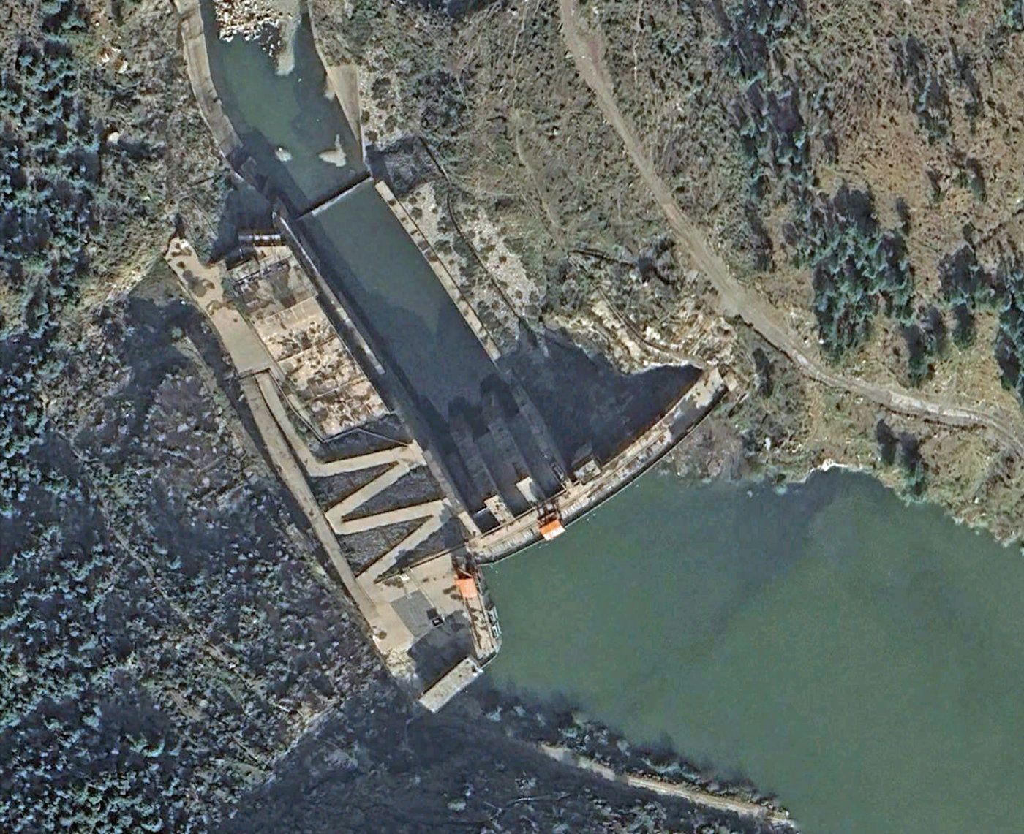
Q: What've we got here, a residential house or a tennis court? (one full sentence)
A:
The one in the frame is a residential house.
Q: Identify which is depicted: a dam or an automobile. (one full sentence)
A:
Looking from above, you can make out a dam.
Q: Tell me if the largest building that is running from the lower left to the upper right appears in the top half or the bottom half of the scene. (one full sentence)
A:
The largest building that is running from the lower left to the upper right is in the bottom half of the image.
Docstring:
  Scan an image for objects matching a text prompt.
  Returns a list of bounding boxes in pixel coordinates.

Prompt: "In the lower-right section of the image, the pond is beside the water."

[482,464,1024,834]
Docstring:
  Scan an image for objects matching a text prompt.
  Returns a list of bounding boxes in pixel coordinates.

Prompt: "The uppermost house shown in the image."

[574,462,600,484]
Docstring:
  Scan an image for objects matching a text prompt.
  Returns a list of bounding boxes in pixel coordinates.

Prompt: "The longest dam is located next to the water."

[440,370,740,566]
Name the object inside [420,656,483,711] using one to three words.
building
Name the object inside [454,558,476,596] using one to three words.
house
